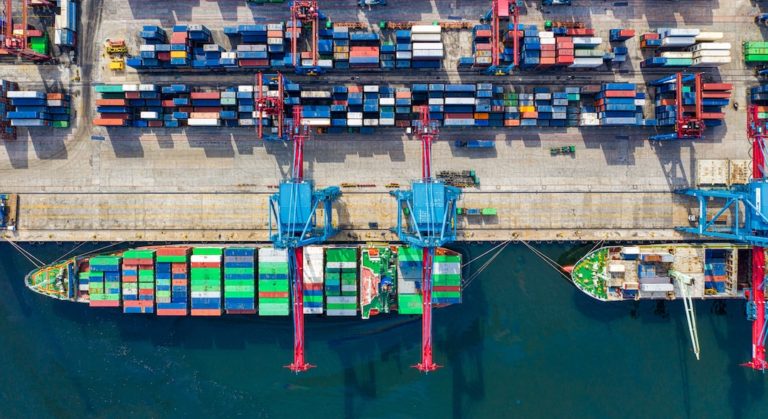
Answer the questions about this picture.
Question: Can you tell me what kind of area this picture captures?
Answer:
port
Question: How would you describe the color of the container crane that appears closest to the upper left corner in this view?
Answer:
red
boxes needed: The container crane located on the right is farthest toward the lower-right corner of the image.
[673,103,768,373]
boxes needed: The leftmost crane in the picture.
[2,0,62,61]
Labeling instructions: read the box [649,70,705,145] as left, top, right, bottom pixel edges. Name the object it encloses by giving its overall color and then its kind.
red container crane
